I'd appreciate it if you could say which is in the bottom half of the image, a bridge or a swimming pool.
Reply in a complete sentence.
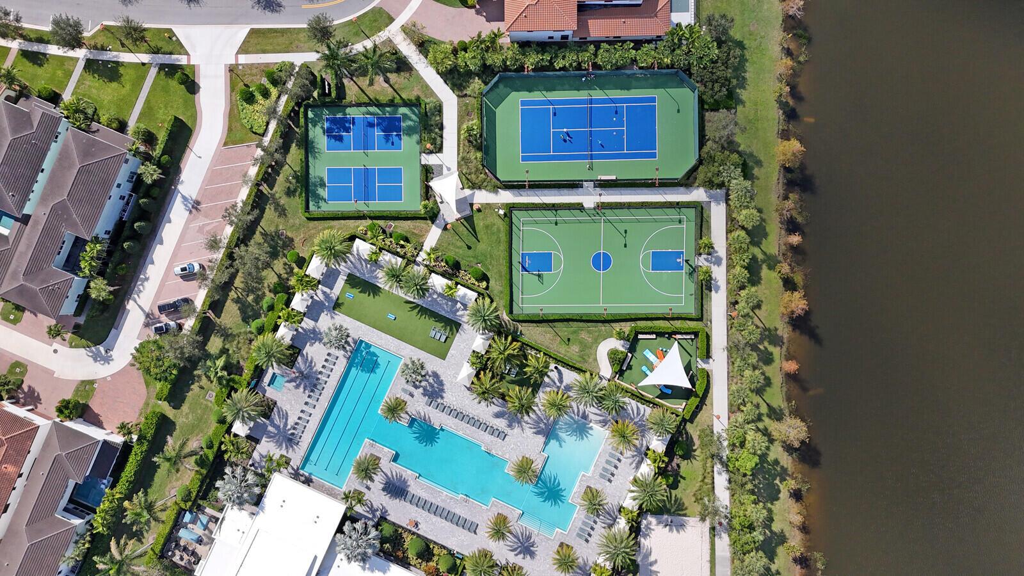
There is a swimming pool in the bottom half of the image.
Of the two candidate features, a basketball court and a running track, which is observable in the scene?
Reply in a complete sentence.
Looking from above, you can make out a basketball court.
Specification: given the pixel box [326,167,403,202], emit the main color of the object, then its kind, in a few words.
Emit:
blue sports court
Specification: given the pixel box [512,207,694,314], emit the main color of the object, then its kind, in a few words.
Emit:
green basketball court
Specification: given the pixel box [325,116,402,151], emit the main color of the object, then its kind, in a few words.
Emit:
blue sports court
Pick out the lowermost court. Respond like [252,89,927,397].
[639,513,712,576]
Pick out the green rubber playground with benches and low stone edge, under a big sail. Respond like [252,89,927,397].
[615,331,698,410]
